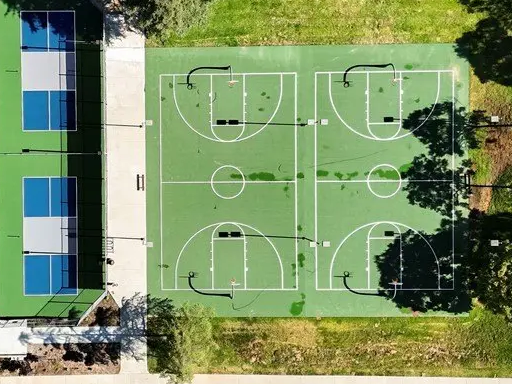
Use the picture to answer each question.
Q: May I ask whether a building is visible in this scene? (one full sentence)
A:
No, the picture doesn't show any building.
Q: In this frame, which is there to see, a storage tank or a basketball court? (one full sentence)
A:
The one in the frame is a basketball court.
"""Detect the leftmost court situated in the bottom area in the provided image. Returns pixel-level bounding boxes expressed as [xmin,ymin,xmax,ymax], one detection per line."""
[0,153,105,319]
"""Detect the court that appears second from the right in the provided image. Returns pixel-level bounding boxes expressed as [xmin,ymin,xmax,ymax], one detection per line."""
[146,45,308,317]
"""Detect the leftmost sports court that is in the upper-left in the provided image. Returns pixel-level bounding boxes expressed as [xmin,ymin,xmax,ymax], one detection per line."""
[0,0,105,153]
